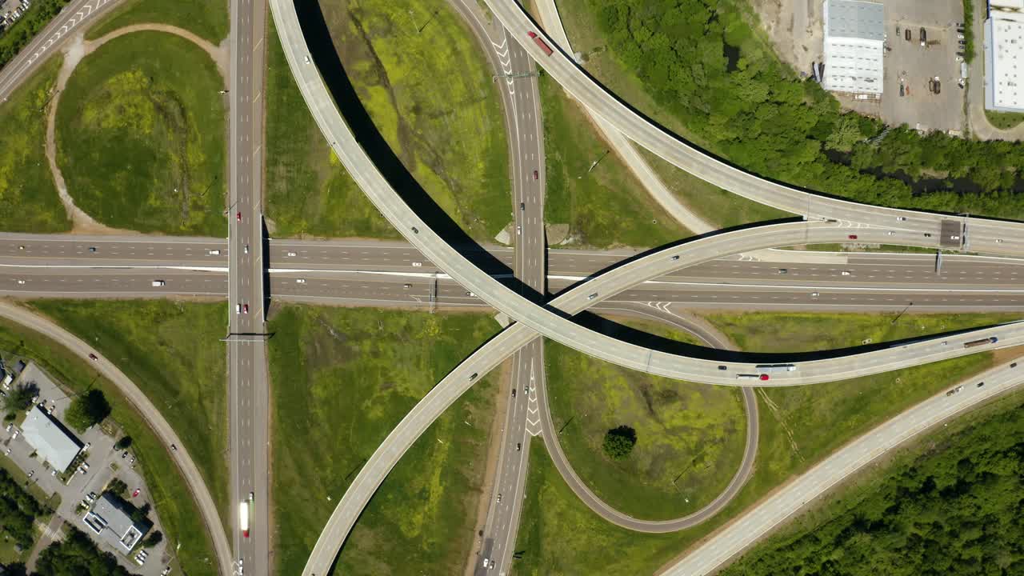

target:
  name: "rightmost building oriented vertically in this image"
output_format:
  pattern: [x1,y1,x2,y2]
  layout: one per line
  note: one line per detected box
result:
[980,17,1024,112]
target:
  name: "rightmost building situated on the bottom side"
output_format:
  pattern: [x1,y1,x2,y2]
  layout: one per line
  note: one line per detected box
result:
[82,491,149,556]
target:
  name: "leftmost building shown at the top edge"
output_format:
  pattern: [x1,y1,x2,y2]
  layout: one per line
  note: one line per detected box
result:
[821,0,884,95]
